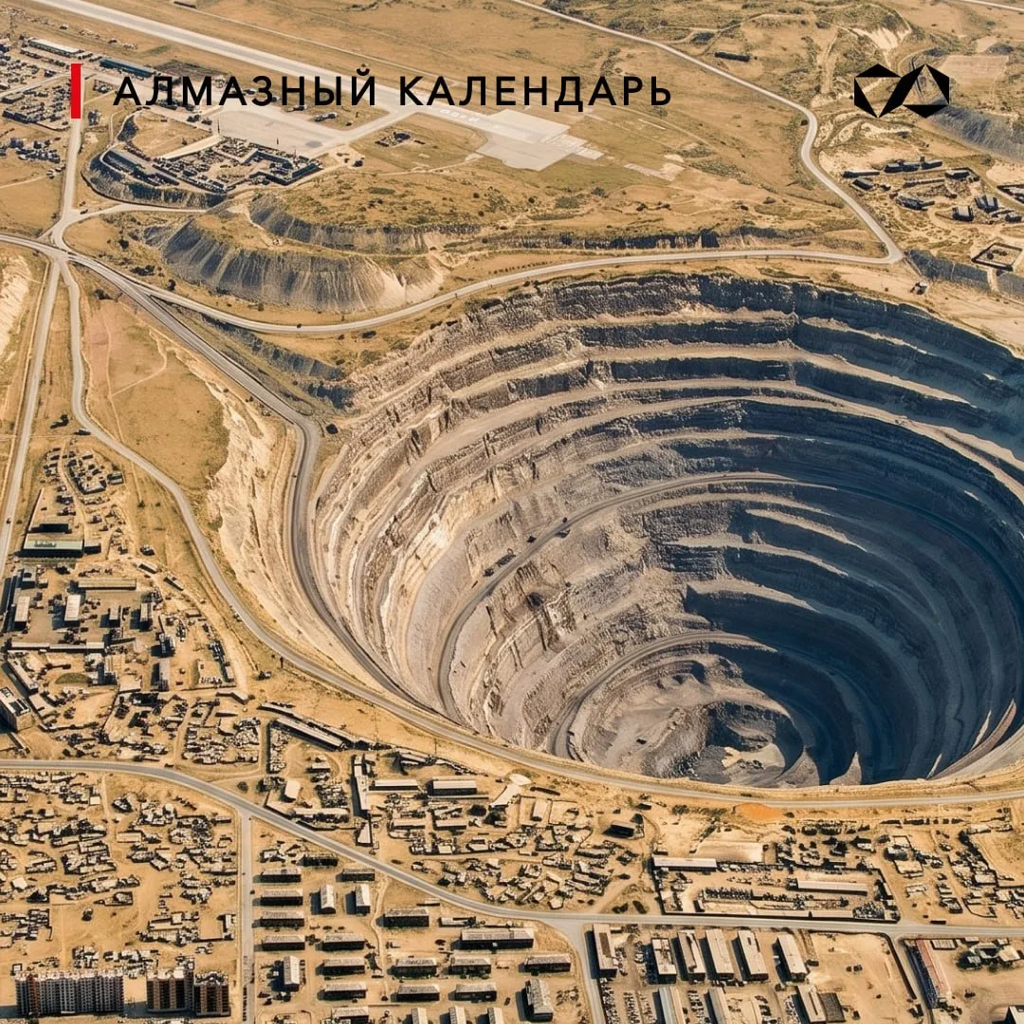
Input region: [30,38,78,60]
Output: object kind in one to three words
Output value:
hangar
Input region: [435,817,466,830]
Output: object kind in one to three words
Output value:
shed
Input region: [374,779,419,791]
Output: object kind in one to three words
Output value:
building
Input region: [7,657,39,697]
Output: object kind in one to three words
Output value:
barn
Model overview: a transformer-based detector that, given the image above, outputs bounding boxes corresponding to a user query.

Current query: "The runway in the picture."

[55,0,563,139]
